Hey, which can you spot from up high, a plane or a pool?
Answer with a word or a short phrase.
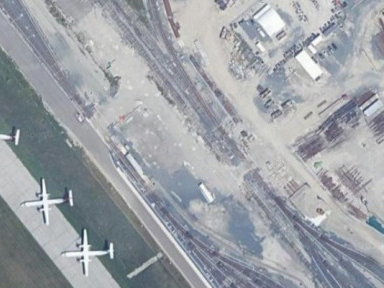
plane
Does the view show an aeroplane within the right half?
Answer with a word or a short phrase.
No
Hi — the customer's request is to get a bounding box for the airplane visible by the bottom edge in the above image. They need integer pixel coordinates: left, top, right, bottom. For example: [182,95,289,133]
[61,230,113,277]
